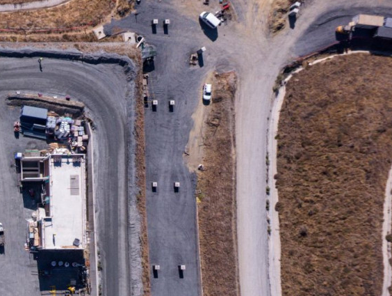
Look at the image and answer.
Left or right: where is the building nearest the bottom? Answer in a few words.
left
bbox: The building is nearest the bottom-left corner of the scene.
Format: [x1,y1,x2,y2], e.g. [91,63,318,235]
[34,154,87,249]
